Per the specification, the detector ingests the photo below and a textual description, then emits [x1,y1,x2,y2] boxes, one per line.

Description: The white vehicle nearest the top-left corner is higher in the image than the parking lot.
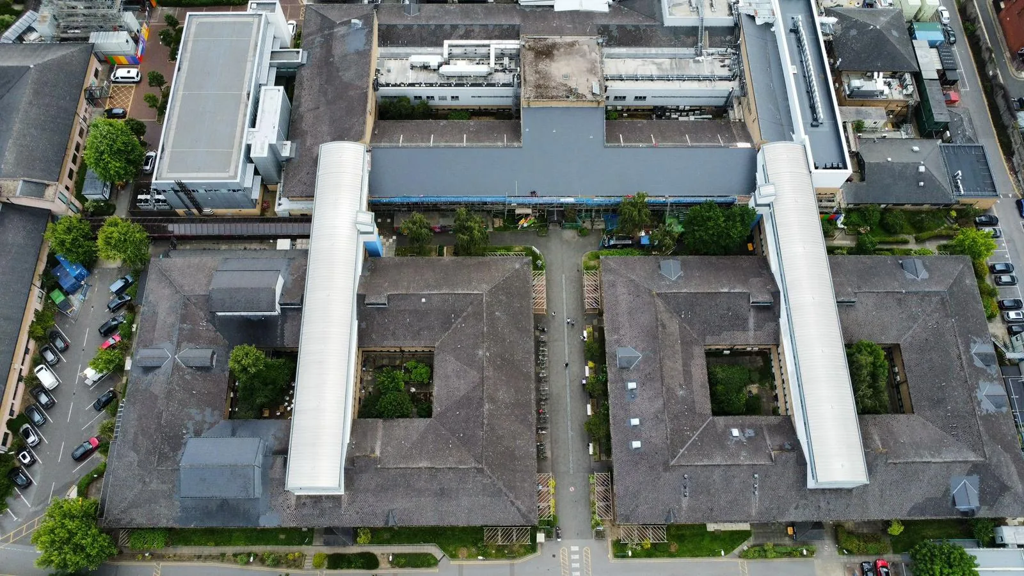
[110,68,139,82]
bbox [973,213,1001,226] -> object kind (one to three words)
vehicle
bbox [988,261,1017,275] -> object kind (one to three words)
car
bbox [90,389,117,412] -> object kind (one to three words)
car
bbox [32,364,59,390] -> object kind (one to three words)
vehicle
